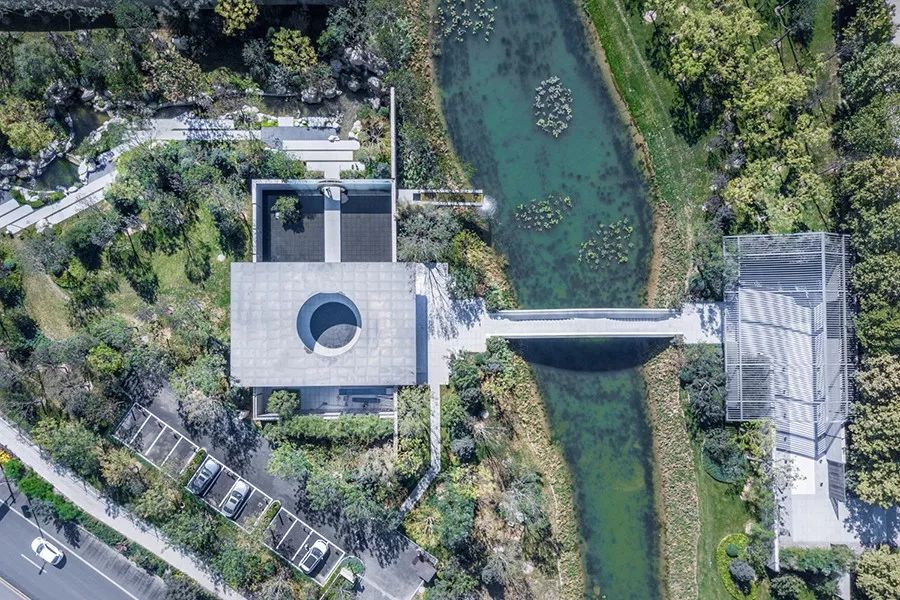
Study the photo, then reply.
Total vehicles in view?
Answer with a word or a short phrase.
4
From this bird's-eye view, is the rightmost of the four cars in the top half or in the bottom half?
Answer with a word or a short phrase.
bottom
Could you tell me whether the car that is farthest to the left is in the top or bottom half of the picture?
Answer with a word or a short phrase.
bottom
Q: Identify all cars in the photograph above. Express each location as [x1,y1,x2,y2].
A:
[221,477,255,520]
[298,534,333,577]
[28,535,67,569]
[189,455,223,497]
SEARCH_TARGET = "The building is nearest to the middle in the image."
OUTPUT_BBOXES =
[230,263,417,386]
